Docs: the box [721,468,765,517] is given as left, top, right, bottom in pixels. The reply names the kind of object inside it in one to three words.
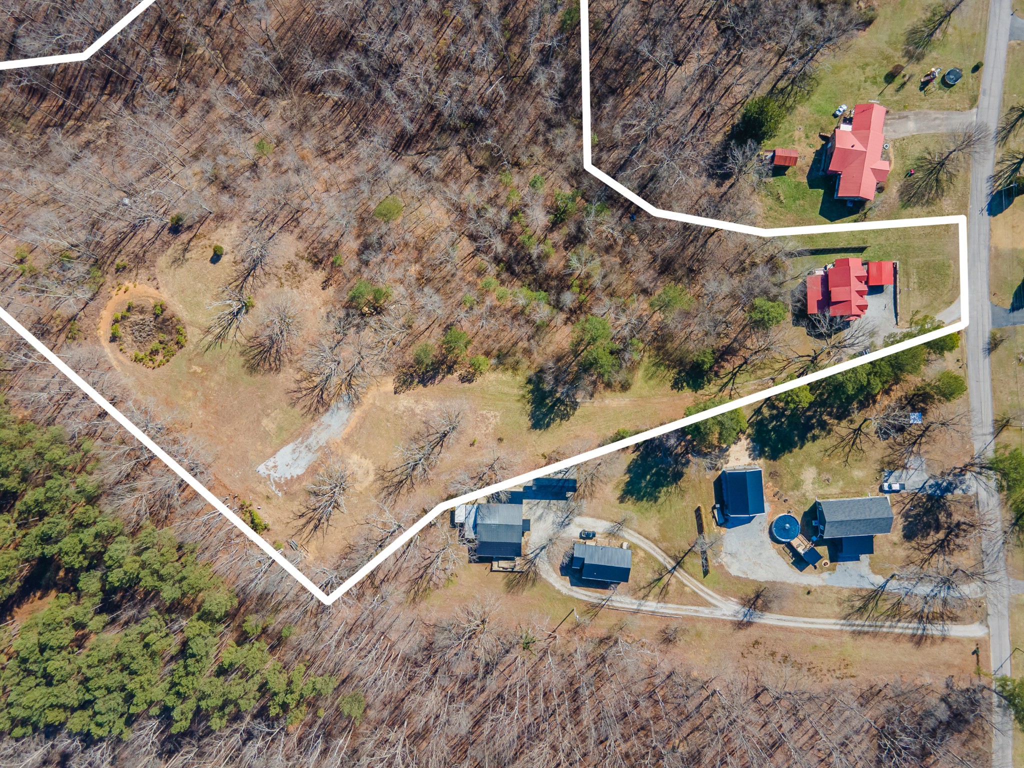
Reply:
building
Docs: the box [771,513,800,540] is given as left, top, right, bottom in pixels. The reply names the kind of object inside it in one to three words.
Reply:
swimming pool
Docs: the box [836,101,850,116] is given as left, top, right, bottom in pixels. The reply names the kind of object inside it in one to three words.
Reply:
vehicle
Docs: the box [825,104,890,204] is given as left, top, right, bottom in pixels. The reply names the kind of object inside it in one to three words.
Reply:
house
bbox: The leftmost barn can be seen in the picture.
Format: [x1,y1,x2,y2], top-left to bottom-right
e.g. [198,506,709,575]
[455,491,530,557]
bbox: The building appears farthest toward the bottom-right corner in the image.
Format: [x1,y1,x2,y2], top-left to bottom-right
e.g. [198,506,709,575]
[817,496,894,555]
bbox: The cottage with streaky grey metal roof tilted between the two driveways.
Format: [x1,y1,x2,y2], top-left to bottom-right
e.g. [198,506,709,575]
[572,543,632,584]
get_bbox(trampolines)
[944,65,966,85]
